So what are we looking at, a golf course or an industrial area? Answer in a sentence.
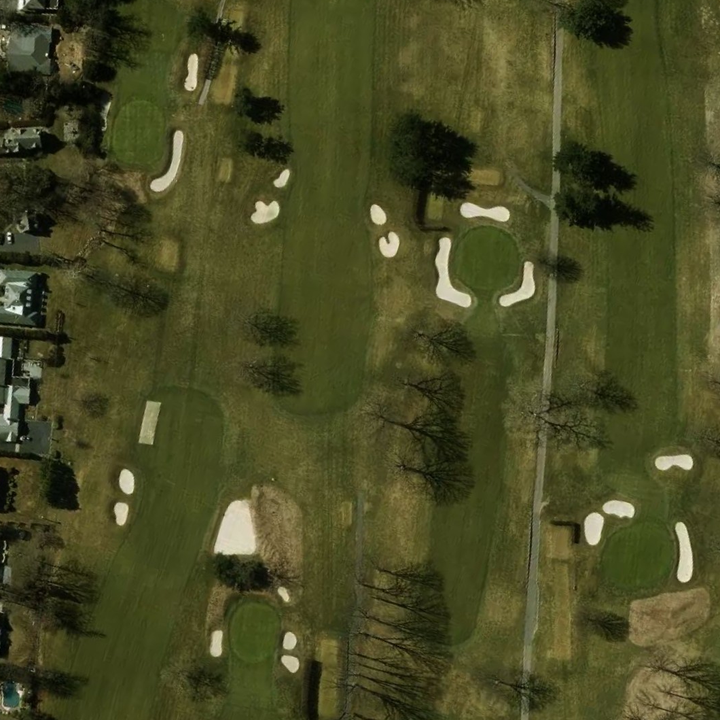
The area seen from above is a golf course.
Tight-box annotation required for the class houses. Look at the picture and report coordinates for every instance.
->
[7,24,53,75]
[0,336,30,442]
[0,127,41,154]
[17,209,38,233]
[0,270,47,326]
[17,0,58,12]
